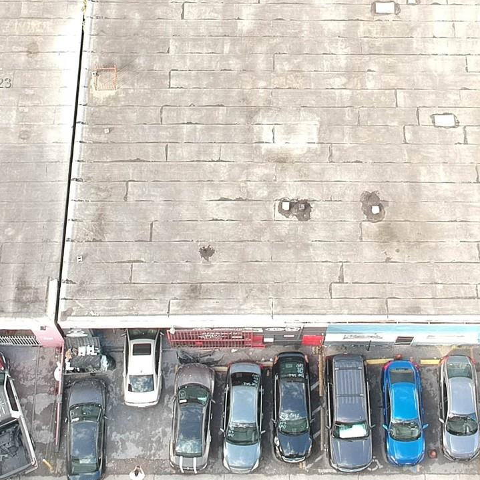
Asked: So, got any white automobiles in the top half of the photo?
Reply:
No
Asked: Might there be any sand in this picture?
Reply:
No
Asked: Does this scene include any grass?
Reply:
No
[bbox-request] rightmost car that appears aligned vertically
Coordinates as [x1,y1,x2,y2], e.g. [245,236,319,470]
[435,357,480,464]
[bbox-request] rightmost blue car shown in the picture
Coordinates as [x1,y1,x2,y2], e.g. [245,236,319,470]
[380,361,430,470]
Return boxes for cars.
[58,378,110,480]
[322,355,376,475]
[218,364,267,476]
[166,364,217,476]
[380,361,430,470]
[435,357,480,464]
[119,333,164,408]
[268,353,317,466]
